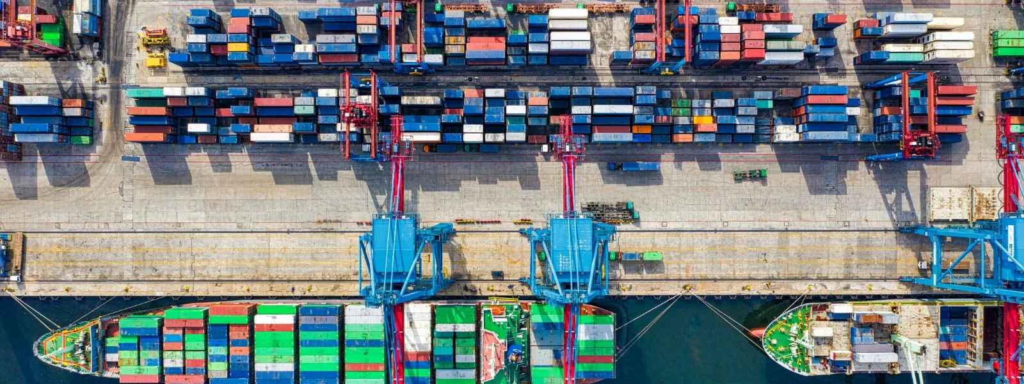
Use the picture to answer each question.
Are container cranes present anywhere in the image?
Yes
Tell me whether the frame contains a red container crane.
Yes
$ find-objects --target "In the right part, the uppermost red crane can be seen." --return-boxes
[637,0,693,76]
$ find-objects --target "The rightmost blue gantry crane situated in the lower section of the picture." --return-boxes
[898,112,1024,384]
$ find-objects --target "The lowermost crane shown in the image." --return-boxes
[890,332,928,384]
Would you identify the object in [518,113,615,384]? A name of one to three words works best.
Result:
container crane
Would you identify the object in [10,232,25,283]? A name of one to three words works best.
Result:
vehicle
